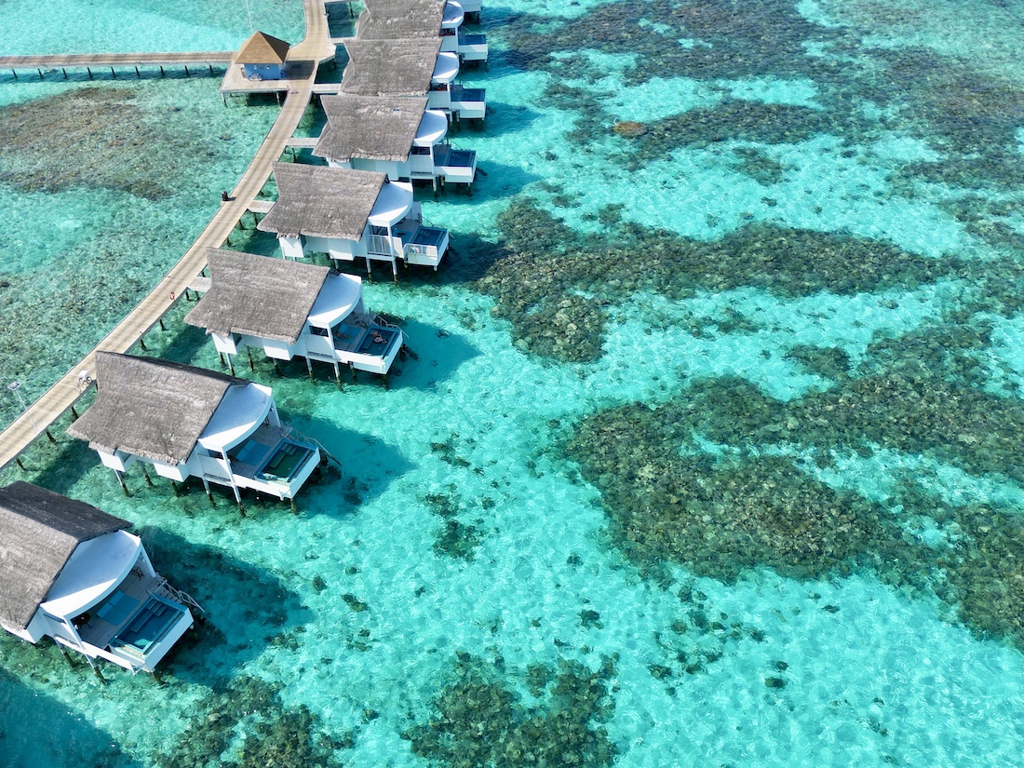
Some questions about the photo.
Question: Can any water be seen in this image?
Yes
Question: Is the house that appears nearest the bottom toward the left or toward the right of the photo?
left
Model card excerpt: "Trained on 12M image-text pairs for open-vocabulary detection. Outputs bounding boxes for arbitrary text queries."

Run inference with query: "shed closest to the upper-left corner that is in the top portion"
[236,32,292,79]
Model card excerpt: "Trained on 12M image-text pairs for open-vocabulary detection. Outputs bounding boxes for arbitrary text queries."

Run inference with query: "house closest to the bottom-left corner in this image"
[0,476,216,677]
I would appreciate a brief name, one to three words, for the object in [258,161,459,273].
house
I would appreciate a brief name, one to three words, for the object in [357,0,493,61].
house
